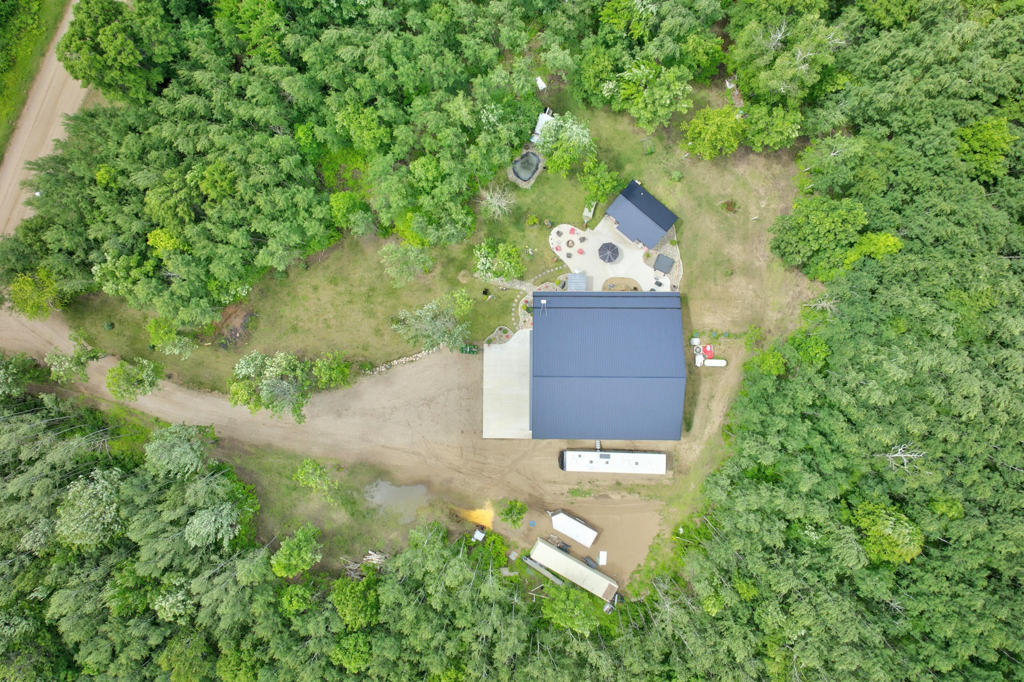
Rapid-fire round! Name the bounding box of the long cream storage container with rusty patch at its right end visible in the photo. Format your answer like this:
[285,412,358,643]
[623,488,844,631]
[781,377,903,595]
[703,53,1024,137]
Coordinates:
[530,536,618,603]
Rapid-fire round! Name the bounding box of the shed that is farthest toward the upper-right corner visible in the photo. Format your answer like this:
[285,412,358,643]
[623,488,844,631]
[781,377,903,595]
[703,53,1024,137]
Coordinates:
[605,178,678,249]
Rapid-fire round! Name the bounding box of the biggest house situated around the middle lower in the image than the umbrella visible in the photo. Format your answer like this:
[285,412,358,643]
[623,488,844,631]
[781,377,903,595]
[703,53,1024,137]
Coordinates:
[528,291,686,440]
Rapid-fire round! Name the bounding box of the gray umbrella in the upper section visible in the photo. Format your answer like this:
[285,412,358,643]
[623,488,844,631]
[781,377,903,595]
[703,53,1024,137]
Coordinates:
[598,243,619,264]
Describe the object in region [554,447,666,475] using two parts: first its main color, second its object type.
white vehicle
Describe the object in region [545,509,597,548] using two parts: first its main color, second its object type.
white trailer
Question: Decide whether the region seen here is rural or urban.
rural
